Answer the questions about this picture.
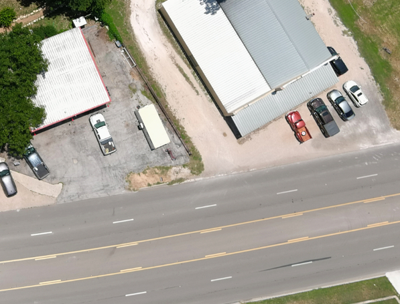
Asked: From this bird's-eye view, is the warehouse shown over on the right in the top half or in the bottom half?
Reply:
top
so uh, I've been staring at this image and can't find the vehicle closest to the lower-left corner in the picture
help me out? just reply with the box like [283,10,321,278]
[0,161,16,197]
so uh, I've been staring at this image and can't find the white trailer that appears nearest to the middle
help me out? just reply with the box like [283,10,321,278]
[136,101,168,149]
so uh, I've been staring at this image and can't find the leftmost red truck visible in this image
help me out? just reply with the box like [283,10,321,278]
[284,109,311,143]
